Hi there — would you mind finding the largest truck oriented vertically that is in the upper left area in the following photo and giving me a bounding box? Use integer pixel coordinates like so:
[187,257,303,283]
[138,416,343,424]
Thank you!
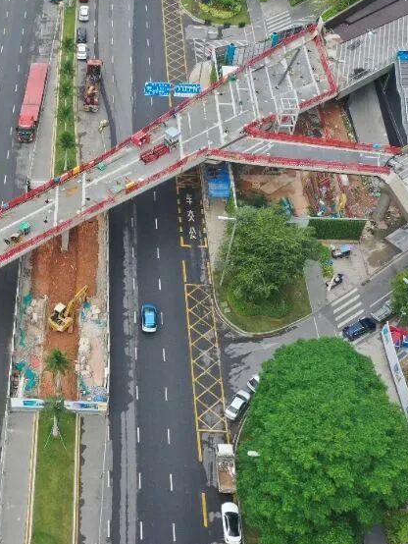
[17,62,45,146]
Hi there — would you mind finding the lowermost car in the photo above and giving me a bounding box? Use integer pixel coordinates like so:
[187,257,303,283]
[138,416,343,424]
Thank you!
[218,502,243,544]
